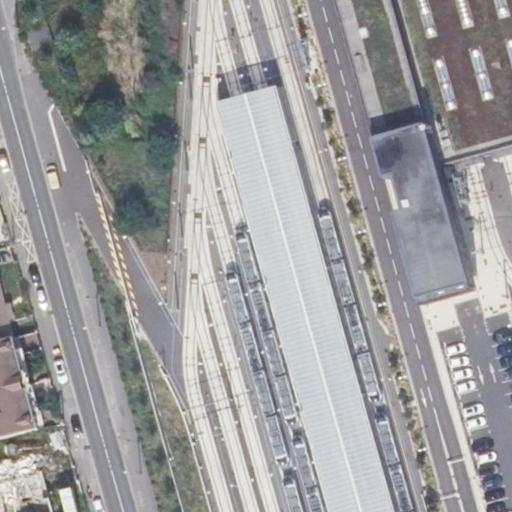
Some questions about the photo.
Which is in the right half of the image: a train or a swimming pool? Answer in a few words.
train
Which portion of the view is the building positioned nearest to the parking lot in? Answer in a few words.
right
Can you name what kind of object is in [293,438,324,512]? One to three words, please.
train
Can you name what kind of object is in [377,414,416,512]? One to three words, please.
train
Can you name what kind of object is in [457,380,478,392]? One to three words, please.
vehicle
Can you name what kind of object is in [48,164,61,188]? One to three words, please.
vehicle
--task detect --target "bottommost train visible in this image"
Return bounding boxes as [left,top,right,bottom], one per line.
[284,478,305,512]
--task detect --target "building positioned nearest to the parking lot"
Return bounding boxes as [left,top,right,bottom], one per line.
[372,124,469,302]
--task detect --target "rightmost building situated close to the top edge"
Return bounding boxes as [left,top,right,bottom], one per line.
[399,0,512,162]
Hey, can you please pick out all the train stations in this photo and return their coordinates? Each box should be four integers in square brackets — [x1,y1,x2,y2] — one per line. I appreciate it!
[218,86,398,512]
